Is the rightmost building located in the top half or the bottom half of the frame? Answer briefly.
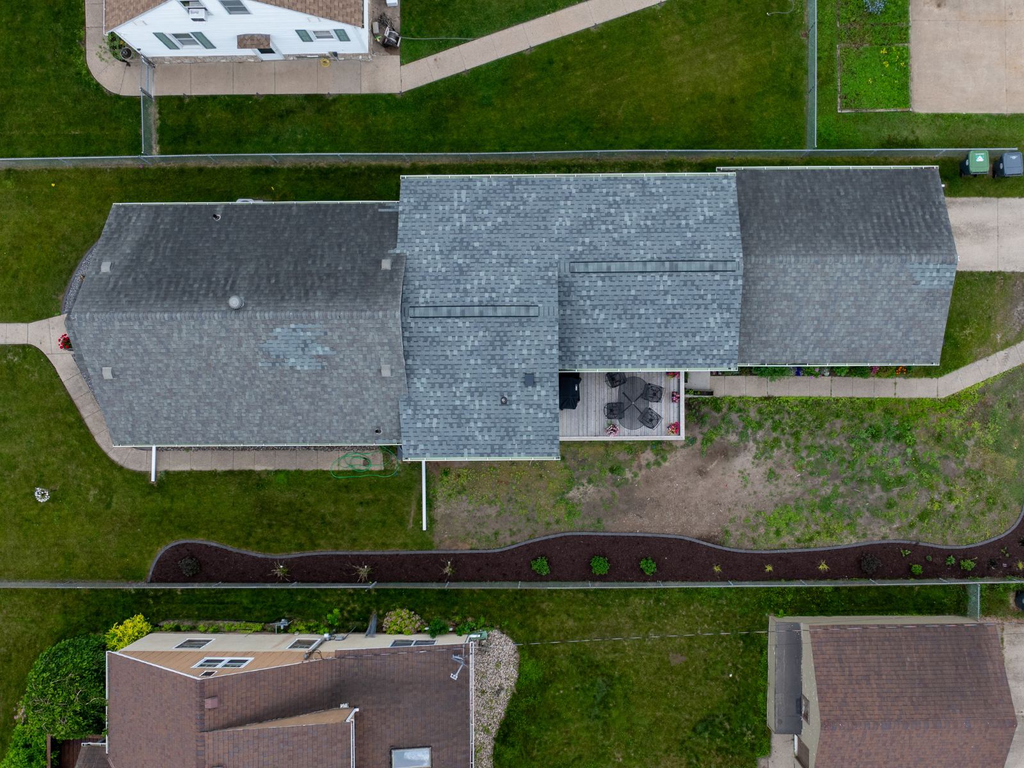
bottom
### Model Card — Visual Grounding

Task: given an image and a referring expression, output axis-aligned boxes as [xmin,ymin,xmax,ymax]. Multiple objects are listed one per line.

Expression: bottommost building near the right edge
[786,614,1017,768]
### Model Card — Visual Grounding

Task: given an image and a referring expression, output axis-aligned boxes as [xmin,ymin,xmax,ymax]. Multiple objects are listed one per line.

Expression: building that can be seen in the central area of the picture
[64,165,961,529]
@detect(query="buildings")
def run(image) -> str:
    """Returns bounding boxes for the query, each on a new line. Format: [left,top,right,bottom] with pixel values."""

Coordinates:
[64,165,961,529]
[786,614,1017,768]
[103,0,374,64]
[76,620,477,768]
